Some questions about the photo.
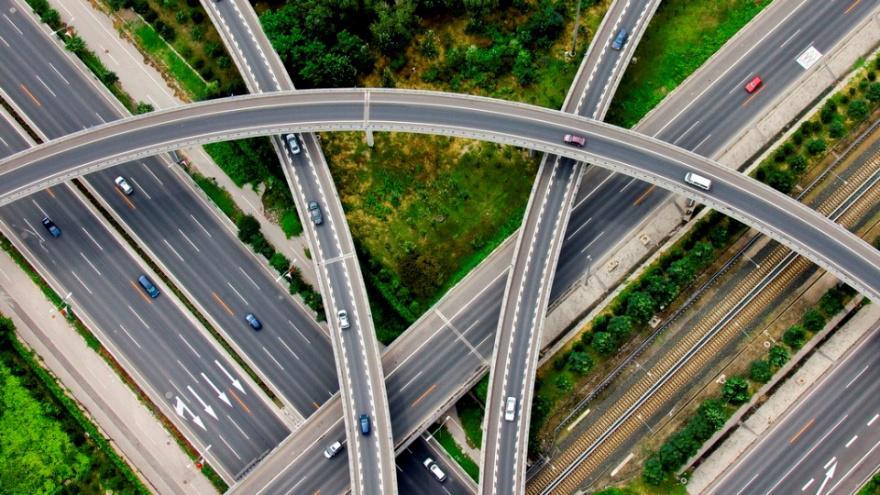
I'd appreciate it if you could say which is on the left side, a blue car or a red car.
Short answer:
blue car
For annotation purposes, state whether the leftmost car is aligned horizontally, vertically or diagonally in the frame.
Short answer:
diagonally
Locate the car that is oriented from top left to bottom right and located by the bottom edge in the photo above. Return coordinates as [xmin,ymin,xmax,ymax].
[423,458,444,480]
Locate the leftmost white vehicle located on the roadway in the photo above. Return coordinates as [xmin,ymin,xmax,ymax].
[114,176,135,196]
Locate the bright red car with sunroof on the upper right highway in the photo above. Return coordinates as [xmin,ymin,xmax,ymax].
[744,76,763,94]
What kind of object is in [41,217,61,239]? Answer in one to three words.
car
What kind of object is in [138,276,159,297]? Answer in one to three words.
car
